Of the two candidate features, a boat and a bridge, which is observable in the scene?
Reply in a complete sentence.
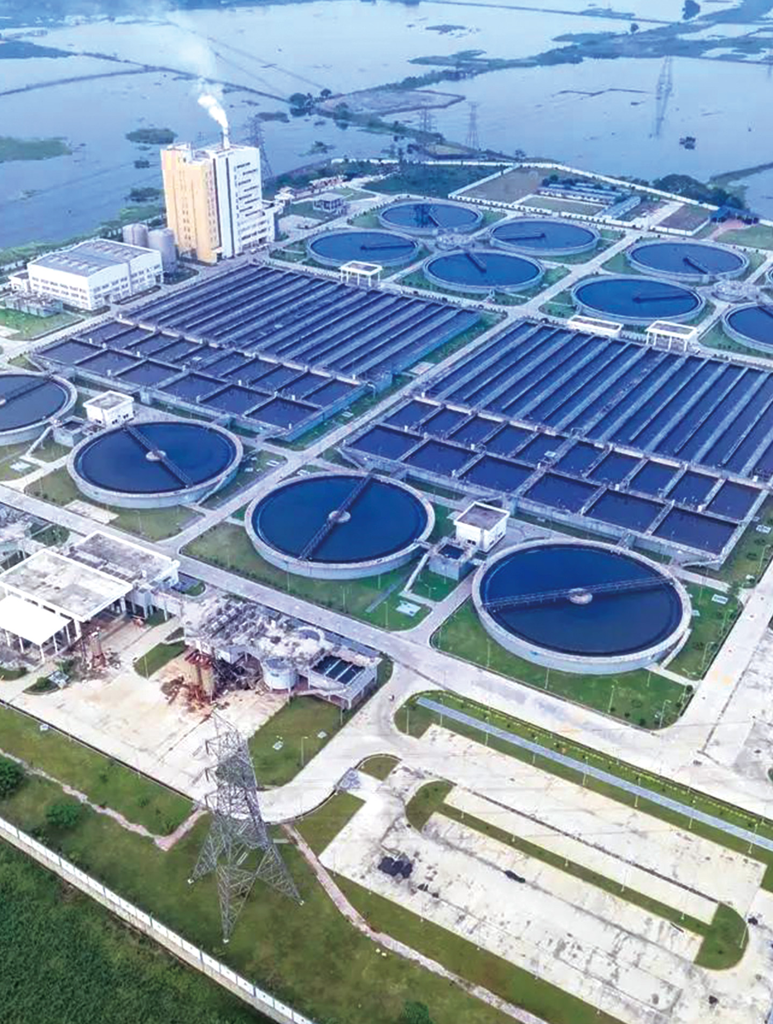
The one in the frame is a bridge.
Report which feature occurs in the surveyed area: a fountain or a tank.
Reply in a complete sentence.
Of the two, only a tank appears.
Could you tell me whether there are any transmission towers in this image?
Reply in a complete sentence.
Yes, the photo shows a transmission tower.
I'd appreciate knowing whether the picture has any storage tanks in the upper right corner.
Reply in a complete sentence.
Yes, a storage tank shows up in the upper right corner.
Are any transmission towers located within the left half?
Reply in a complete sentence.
Yes, the scene does show a transmission tower within the left half.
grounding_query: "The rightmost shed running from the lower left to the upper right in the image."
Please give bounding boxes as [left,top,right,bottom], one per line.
[603,194,644,224]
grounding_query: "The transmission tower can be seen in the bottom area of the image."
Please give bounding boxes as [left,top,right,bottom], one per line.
[184,710,306,943]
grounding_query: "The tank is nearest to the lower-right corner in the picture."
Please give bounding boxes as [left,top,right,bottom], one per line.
[476,535,693,675]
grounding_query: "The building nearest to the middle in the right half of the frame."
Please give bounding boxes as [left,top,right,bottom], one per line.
[453,500,507,556]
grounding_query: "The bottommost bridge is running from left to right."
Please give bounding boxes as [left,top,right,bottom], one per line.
[482,571,681,615]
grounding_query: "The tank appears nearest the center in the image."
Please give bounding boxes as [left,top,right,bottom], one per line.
[245,466,437,580]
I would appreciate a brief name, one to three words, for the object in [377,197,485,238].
storage tank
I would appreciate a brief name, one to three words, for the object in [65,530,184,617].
building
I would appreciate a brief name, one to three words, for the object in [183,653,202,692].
silo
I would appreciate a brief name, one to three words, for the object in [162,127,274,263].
building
